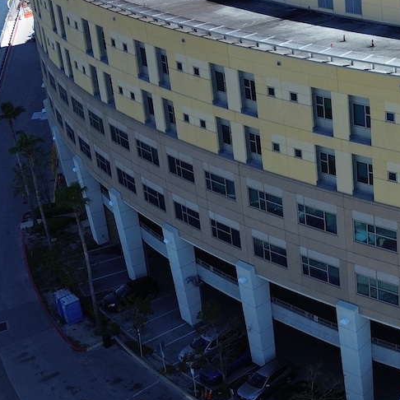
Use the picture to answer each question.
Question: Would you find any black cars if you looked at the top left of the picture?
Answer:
No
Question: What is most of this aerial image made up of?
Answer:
buildings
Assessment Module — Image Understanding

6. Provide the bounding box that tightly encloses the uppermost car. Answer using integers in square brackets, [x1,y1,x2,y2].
[101,263,168,304]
